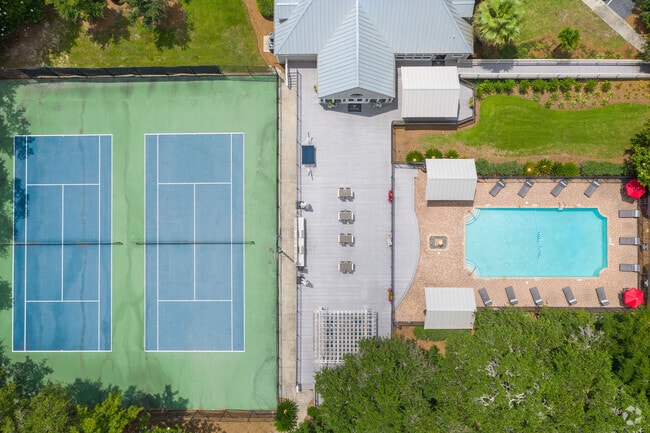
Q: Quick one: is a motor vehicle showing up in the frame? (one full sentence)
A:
No, there isn't any motor vehicle down there.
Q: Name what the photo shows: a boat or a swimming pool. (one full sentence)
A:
The one in the frame is a swimming pool.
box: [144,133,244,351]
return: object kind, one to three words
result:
tennis court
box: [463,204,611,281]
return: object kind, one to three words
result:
swimming pool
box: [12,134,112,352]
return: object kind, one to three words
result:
tennis court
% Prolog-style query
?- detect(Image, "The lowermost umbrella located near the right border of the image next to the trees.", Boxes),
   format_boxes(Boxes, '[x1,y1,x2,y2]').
[618,287,642,309]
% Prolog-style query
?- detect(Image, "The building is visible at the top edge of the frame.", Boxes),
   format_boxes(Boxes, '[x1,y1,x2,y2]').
[273,0,477,104]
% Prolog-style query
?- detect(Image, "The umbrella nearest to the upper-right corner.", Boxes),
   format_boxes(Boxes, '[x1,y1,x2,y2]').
[620,180,645,200]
